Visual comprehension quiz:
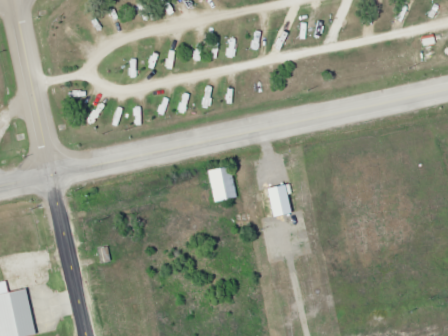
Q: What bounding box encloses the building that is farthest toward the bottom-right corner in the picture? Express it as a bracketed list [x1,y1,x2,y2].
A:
[266,184,292,218]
